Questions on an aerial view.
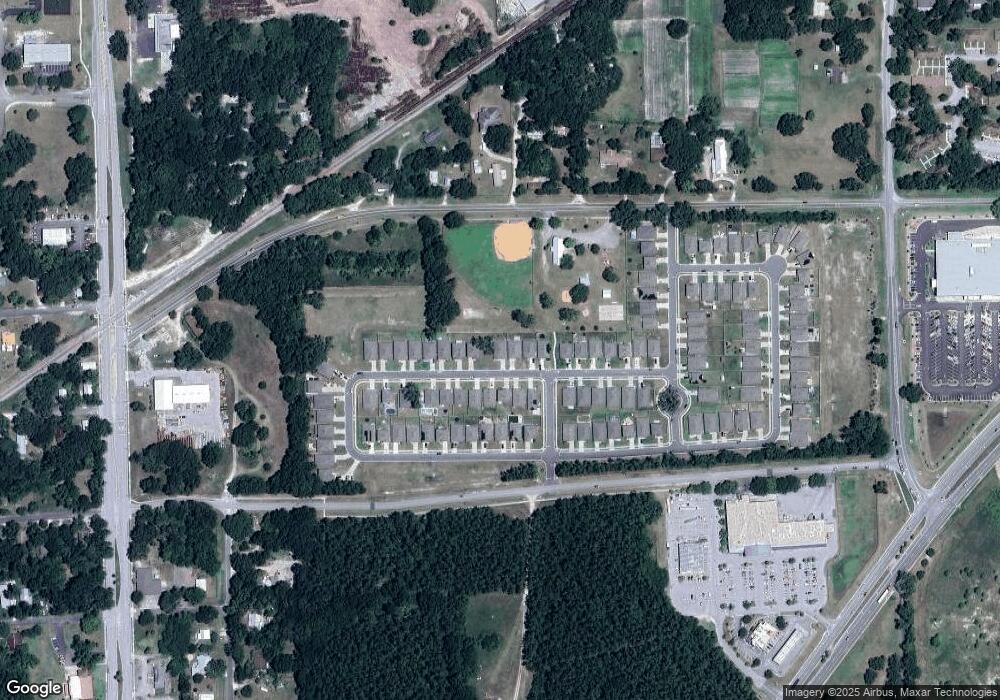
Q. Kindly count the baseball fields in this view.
1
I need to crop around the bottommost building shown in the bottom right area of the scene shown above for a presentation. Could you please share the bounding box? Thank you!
[752,622,780,649]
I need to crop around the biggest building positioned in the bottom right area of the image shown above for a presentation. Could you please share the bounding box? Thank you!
[727,494,834,556]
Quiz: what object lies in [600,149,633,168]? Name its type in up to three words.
house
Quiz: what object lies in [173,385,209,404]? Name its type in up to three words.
shed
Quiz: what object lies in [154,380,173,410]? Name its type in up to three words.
building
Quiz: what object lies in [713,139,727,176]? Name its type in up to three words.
building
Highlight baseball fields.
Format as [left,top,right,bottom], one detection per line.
[447,220,534,308]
